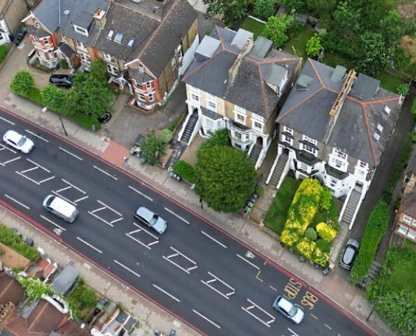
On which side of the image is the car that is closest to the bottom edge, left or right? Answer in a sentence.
The car that is closest to the bottom edge sits on the right side.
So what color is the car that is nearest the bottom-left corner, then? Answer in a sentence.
In this view, the car that is nearest the bottom-left corner is white.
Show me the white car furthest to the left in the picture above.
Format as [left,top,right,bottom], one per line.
[1,131,34,154]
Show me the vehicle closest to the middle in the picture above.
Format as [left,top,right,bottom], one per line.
[134,206,168,234]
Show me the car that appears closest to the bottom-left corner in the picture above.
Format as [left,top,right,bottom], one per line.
[43,196,80,223]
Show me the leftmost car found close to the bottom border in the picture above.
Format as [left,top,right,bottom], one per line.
[271,295,305,324]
